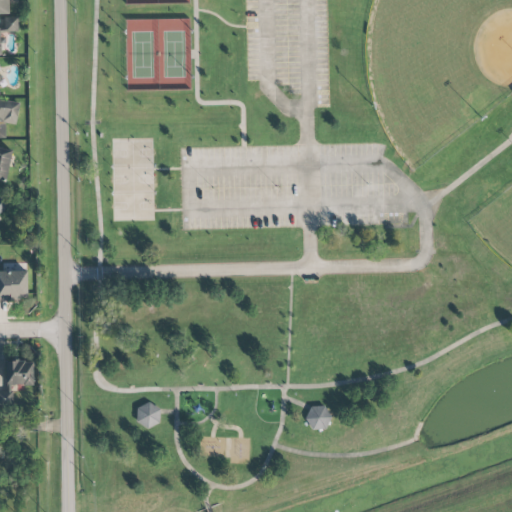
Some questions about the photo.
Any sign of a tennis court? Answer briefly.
Yes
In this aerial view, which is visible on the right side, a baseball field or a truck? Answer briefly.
baseball field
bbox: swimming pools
[0,33,18,54]
[0,64,20,89]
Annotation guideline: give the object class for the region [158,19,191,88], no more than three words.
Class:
tennis court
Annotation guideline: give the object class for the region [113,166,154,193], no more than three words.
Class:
basketball court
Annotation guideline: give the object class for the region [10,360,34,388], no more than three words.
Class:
house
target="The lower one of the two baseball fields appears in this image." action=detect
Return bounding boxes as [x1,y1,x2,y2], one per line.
[466,186,512,265]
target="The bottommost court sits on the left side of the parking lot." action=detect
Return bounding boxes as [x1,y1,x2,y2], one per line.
[114,193,155,220]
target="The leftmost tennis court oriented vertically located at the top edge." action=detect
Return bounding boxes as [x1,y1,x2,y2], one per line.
[126,19,158,88]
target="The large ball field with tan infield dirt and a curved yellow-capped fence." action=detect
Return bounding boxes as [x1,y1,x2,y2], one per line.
[366,0,512,170]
